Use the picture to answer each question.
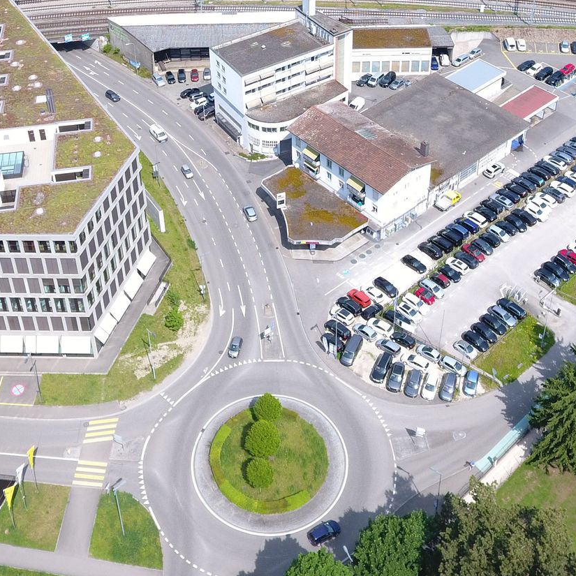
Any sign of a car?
Yes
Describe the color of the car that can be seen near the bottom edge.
blue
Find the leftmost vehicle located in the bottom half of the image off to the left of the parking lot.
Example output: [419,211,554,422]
[228,336,243,359]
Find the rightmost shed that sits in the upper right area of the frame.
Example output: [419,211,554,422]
[500,85,559,126]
